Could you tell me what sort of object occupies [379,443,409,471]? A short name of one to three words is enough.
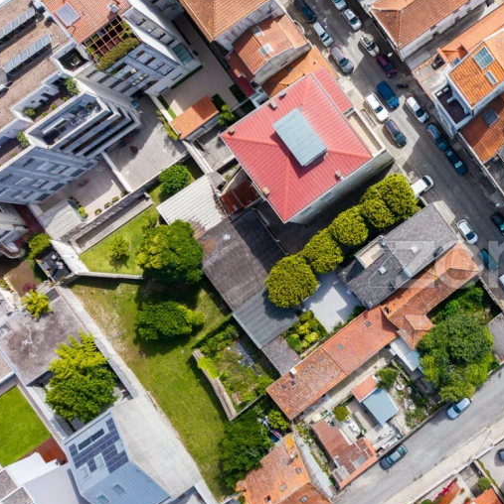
car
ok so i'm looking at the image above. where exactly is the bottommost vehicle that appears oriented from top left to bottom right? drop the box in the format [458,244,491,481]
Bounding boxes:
[476,244,502,276]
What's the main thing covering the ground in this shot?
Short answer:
buildings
